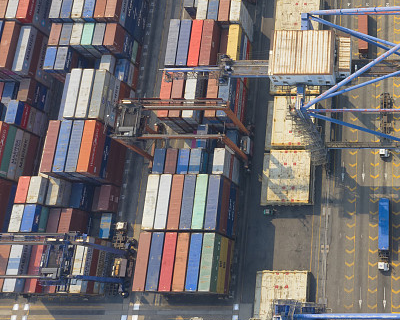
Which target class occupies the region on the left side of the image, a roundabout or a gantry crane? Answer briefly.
gantry crane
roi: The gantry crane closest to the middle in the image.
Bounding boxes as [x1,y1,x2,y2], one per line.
[110,98,255,171]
